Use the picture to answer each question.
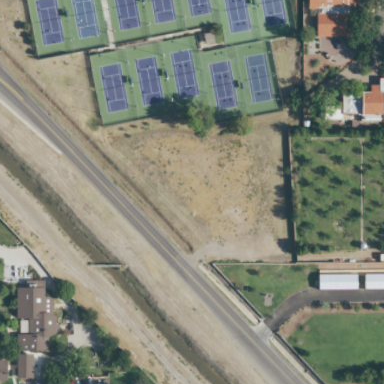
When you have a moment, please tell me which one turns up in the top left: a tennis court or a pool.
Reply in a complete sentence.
Visible in the top left is a tennis court.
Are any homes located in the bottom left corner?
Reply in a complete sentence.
Yes, you'll find a home in the bottom left corner.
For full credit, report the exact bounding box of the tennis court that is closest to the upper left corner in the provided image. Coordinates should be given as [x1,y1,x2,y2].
[27,0,74,59]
